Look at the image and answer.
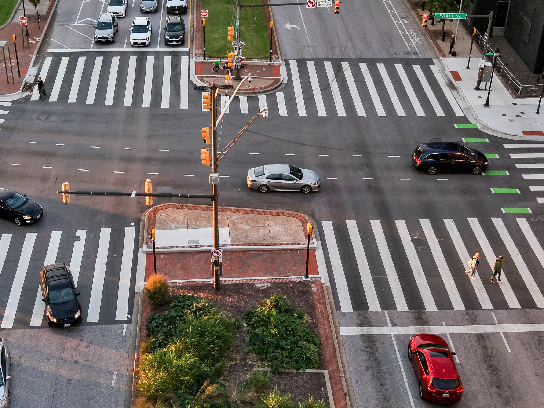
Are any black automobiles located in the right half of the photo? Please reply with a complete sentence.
Yes, a black automobile is visible in the right half of the photo.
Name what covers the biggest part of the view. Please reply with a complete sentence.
What you mostly see from above here is paved ground.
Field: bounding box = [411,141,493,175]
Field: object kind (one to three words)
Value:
car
